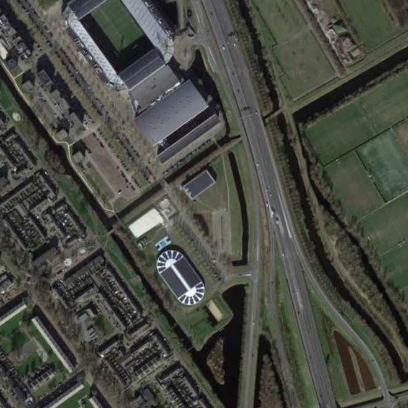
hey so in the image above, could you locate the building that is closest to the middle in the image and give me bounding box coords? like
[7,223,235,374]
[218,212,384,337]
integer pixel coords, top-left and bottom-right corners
[183,170,216,199]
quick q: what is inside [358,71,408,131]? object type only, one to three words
soccer field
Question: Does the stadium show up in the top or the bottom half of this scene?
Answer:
top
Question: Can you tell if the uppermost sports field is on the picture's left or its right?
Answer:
left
